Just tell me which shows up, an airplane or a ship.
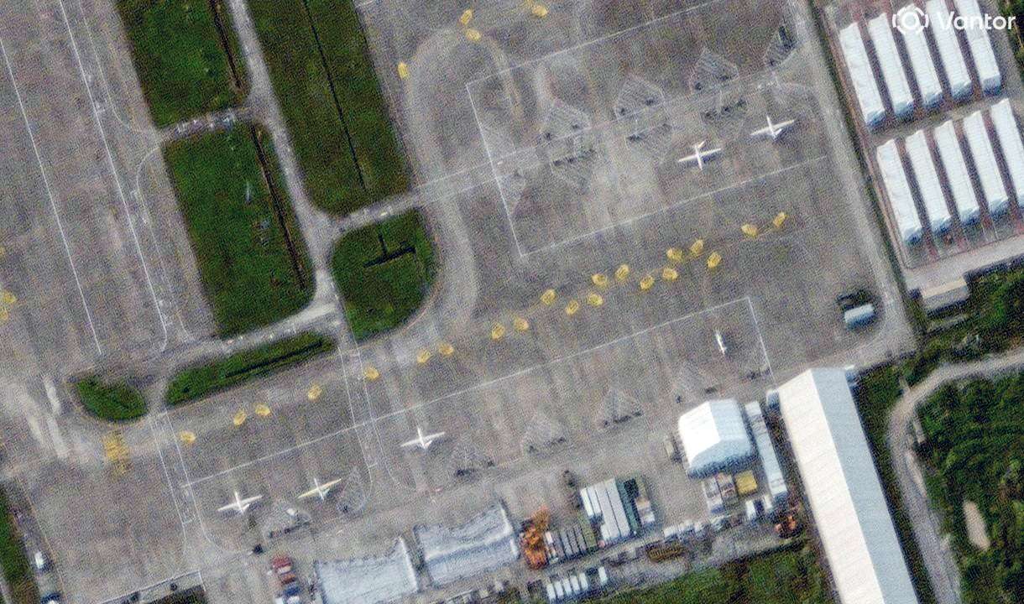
airplane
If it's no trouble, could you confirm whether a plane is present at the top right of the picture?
Yes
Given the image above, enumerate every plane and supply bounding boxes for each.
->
[297,478,342,500]
[715,329,730,355]
[217,491,262,516]
[676,142,720,170]
[399,426,445,450]
[748,116,794,140]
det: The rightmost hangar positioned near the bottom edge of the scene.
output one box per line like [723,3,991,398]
[779,369,918,604]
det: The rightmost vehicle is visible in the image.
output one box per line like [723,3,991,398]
[837,287,870,306]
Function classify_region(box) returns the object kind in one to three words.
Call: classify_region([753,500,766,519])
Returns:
vehicle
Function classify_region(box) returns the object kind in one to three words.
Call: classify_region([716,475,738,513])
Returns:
truck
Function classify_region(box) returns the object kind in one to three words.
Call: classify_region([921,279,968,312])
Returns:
building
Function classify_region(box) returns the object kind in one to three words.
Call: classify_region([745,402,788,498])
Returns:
building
